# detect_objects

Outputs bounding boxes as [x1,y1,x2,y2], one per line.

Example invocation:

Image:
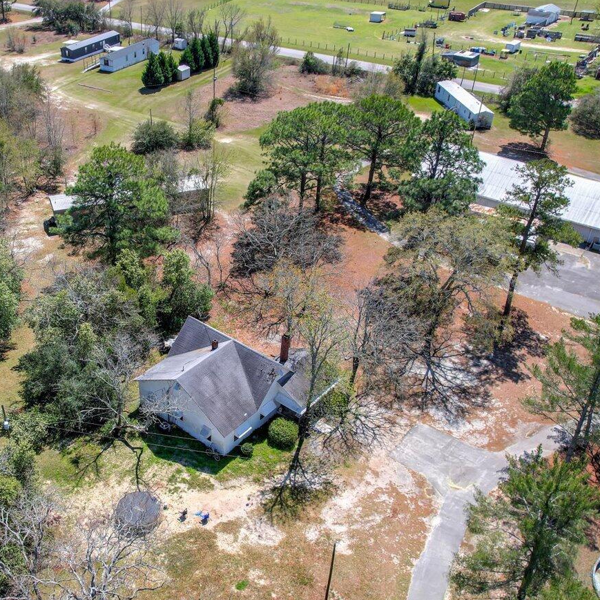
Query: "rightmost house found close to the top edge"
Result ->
[529,3,564,24]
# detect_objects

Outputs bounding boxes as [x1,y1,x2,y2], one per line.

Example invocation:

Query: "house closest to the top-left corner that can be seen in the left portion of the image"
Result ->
[60,32,113,62]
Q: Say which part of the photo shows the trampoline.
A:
bottom left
